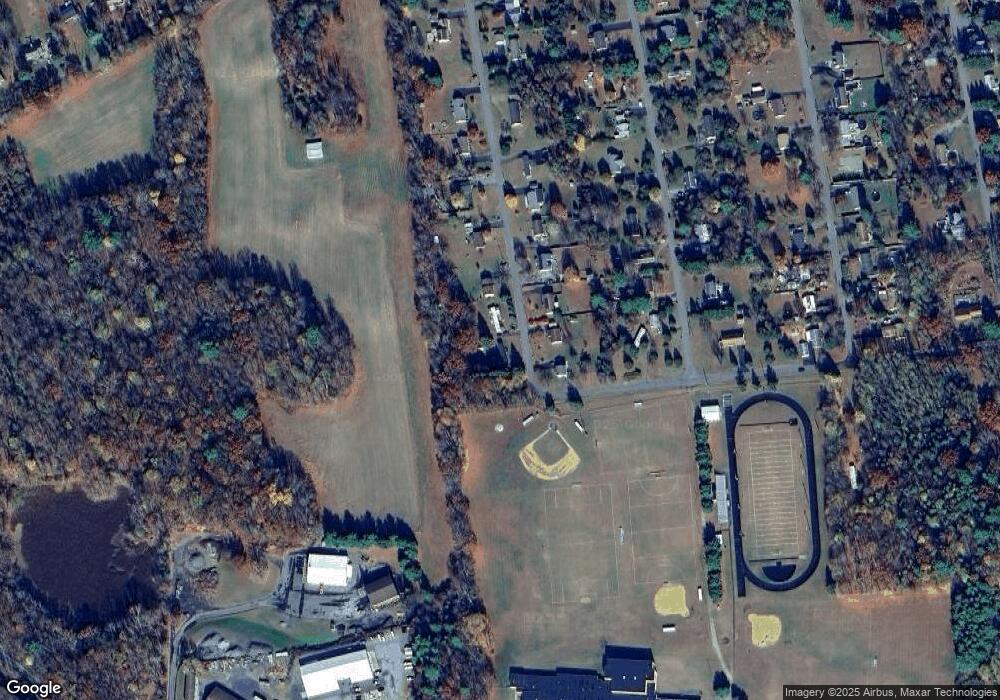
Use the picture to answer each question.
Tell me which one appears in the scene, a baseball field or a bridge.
baseball field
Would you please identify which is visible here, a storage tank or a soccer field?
soccer field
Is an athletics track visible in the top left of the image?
No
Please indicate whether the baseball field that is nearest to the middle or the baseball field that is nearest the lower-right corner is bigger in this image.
the baseball field that is nearest to the middle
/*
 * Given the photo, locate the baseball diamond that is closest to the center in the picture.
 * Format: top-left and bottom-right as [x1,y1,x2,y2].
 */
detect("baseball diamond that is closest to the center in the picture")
[516,422,584,484]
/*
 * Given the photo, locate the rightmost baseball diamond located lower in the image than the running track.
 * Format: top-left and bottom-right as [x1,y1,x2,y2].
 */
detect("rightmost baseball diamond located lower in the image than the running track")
[745,612,784,649]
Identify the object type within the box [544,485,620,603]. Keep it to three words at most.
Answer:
soccer field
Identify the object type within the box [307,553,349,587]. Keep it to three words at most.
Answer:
building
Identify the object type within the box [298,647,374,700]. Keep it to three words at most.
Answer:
building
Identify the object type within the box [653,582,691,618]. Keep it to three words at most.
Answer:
baseball field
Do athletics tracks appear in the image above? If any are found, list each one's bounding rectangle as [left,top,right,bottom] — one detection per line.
[726,391,820,597]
